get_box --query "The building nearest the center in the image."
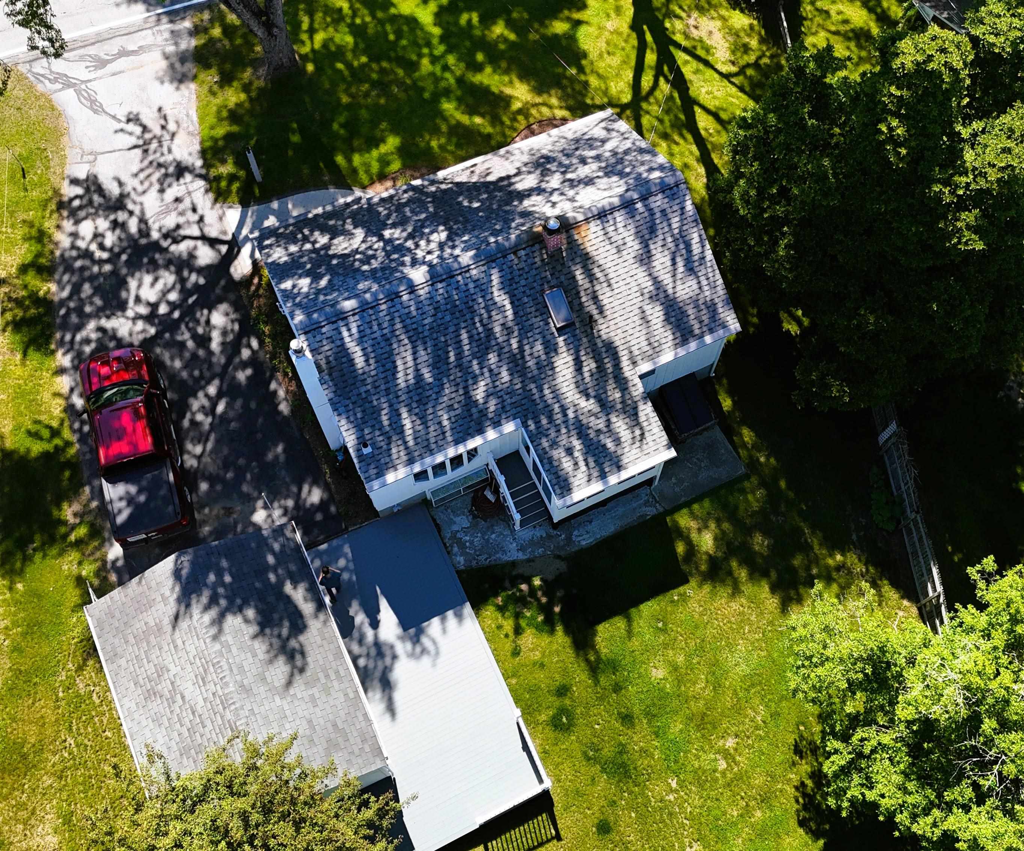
[250,102,746,532]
